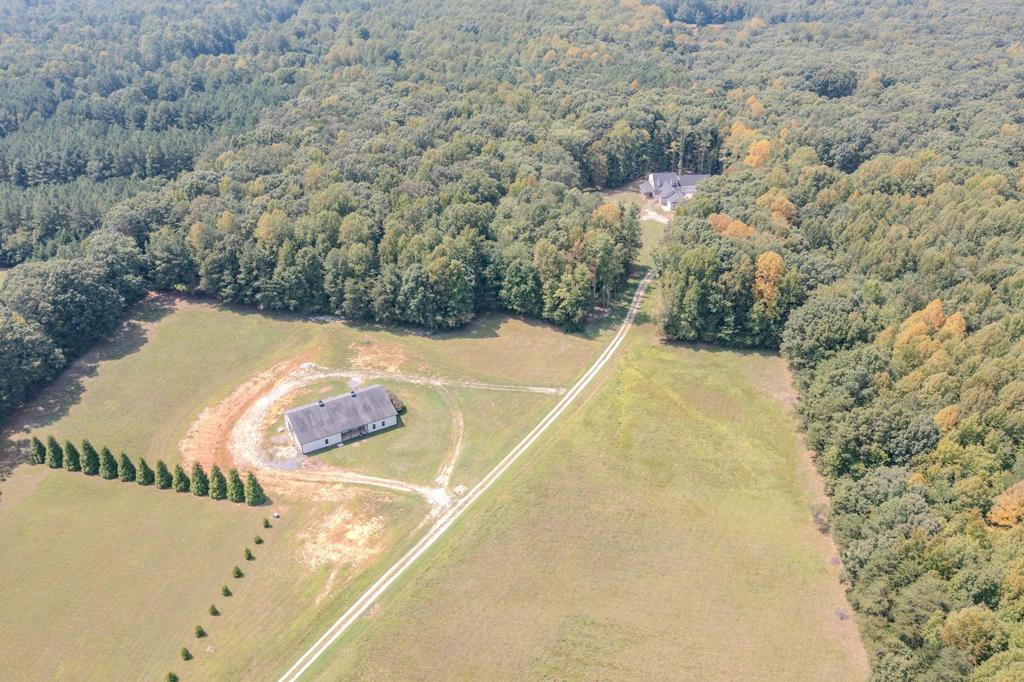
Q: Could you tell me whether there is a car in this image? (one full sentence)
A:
No, the photo shows no car.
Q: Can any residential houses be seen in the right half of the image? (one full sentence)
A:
Yes, a residential house appears in the right half of the image.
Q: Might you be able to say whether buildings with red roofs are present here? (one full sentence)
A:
No, no building with a red roof is visible in the scene.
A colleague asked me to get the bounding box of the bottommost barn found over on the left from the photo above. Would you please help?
[286,387,399,454]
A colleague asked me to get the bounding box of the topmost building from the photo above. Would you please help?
[640,178,708,211]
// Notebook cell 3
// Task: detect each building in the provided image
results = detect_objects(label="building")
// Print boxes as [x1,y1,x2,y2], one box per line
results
[640,178,708,211]
[286,387,399,454]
